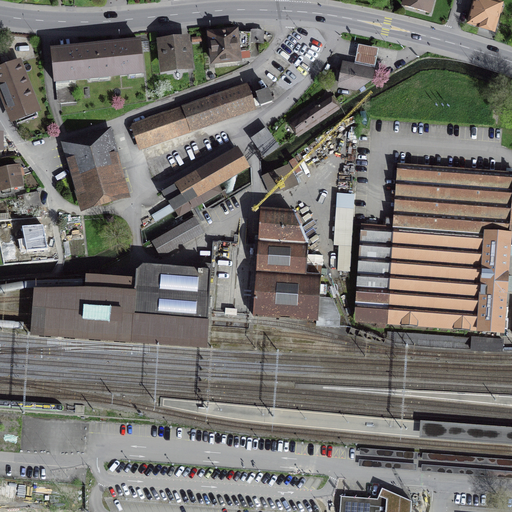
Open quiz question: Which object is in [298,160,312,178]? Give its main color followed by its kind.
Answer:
white vehicle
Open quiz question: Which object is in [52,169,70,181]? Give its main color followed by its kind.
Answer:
white vehicle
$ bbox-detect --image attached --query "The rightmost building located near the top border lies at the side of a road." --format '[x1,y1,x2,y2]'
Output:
[467,0,504,38]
